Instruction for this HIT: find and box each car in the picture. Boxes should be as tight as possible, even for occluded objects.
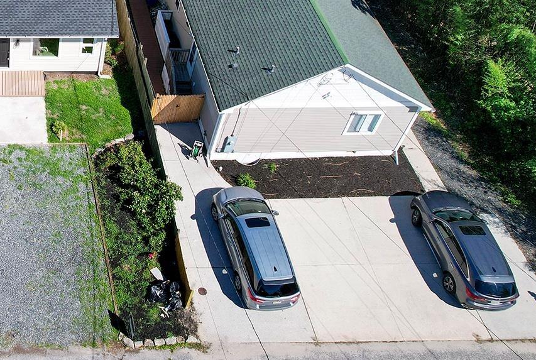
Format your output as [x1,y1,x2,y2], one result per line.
[413,193,516,315]
[218,192,301,315]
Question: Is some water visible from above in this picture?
No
